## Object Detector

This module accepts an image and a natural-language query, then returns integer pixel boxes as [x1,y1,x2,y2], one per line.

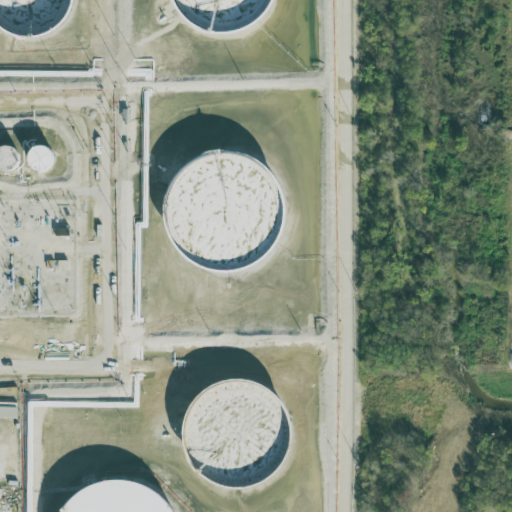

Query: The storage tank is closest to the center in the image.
[165,150,284,270]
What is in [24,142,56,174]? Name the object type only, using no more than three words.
storage tank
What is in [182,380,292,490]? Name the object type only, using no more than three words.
storage tank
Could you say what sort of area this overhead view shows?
industrial area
